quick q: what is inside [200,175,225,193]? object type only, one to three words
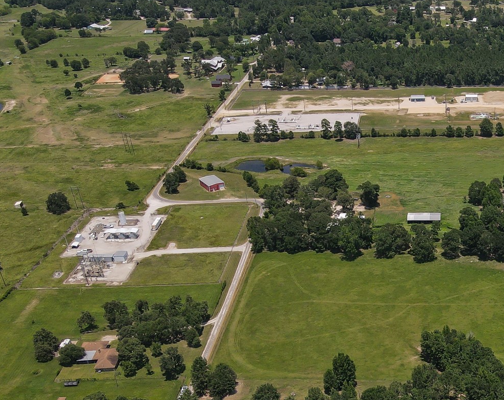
barn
